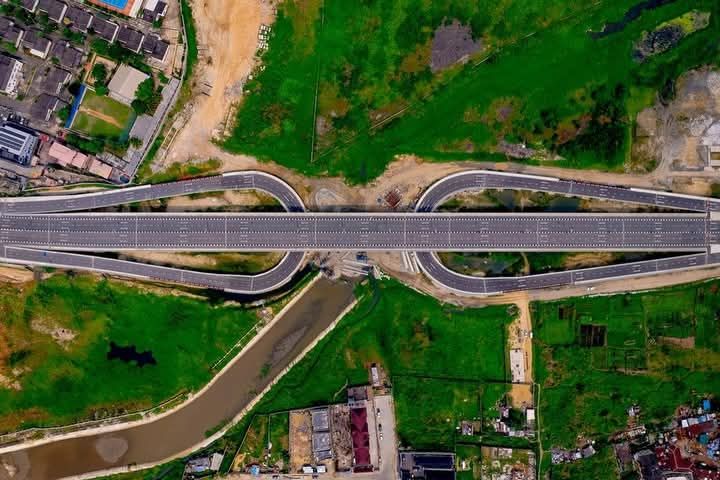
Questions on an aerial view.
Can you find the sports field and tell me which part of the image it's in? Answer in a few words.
top left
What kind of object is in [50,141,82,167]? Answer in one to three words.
house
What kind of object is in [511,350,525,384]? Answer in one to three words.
building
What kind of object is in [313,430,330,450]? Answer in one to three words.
house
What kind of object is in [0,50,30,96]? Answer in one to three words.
building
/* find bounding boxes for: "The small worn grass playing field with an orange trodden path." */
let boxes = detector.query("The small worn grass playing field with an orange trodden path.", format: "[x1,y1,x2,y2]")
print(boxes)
[72,91,132,142]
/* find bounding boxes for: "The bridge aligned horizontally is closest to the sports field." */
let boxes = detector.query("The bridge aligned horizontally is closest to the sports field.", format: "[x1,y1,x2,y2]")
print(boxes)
[0,210,720,252]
